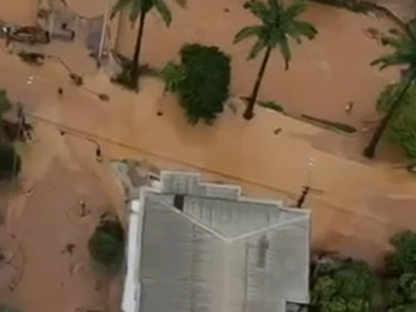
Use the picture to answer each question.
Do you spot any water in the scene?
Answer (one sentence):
Yes, there's water in this view.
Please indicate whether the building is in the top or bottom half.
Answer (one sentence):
The building is in the bottom half of the image.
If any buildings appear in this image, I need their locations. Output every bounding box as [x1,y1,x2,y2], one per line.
[123,169,314,312]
